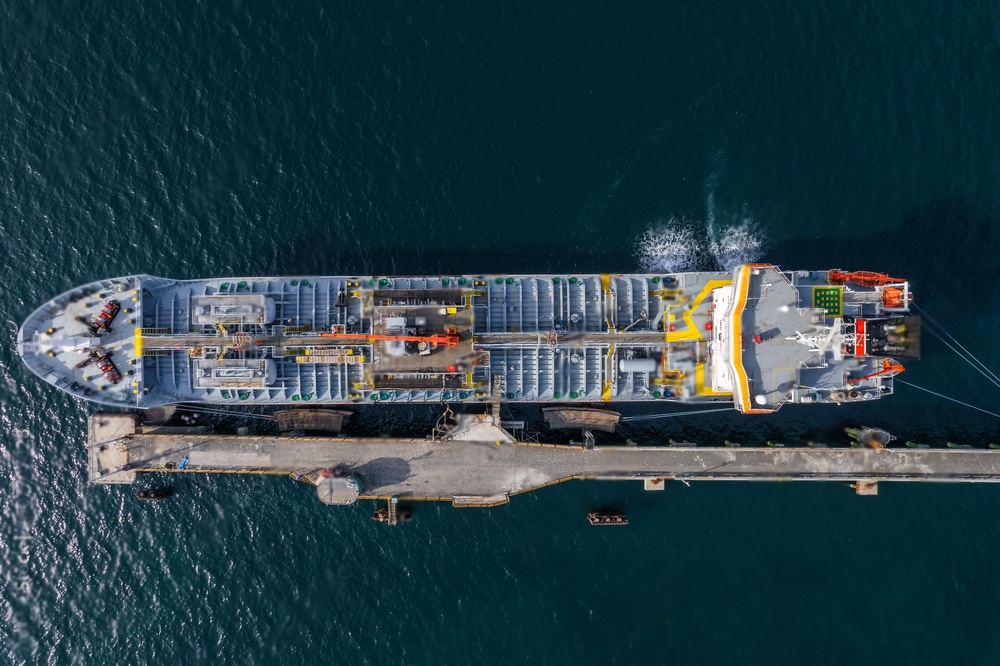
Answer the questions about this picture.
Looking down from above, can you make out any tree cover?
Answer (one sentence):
No, the picture contains no tree cover.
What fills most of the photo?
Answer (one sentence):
Most of the picture is covered by water.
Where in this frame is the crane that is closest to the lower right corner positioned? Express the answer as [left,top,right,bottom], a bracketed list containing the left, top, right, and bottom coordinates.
[843,358,901,384]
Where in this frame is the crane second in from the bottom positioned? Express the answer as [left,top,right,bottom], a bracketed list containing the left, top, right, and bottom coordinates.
[316,327,460,349]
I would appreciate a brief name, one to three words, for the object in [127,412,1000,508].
pier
